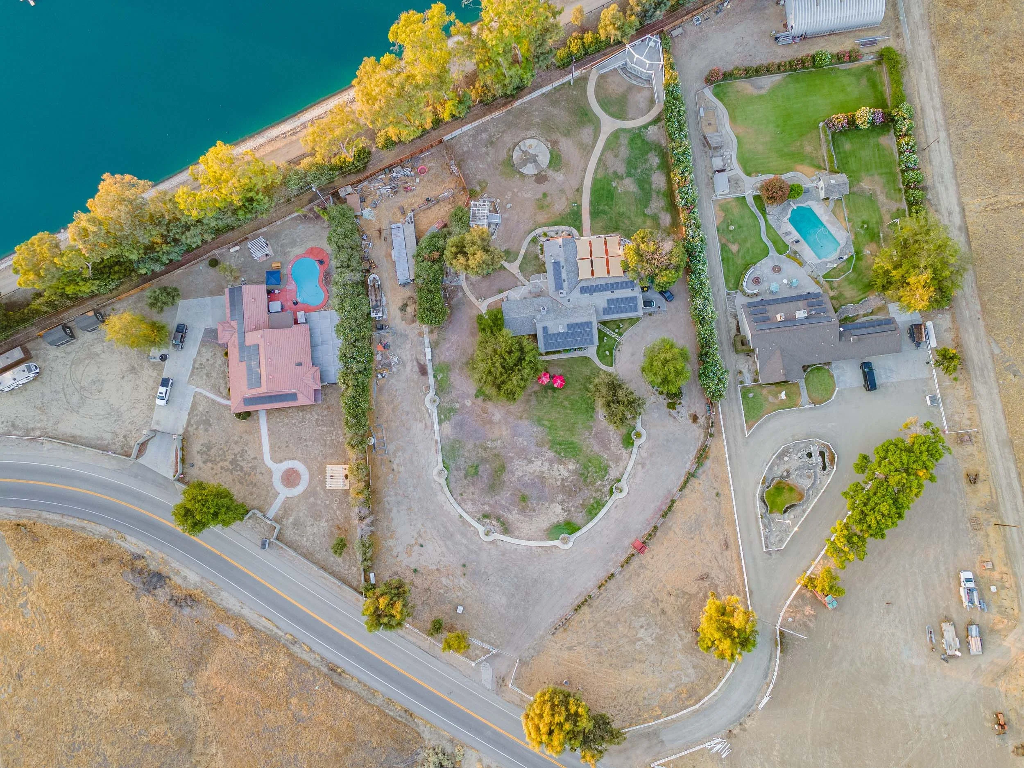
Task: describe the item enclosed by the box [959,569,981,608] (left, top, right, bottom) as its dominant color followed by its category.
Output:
white truck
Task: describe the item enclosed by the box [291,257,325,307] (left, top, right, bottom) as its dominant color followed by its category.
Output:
blue swimming pool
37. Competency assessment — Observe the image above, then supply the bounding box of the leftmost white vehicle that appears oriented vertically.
[157,377,174,407]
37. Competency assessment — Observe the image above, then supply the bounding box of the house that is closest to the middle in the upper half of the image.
[502,235,642,352]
